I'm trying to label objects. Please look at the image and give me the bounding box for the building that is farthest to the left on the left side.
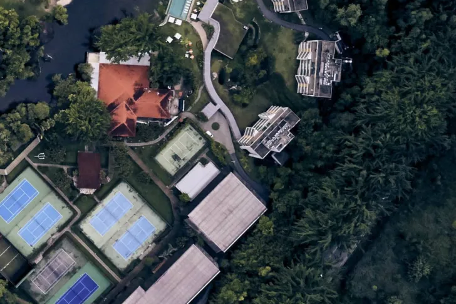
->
[75,147,100,193]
